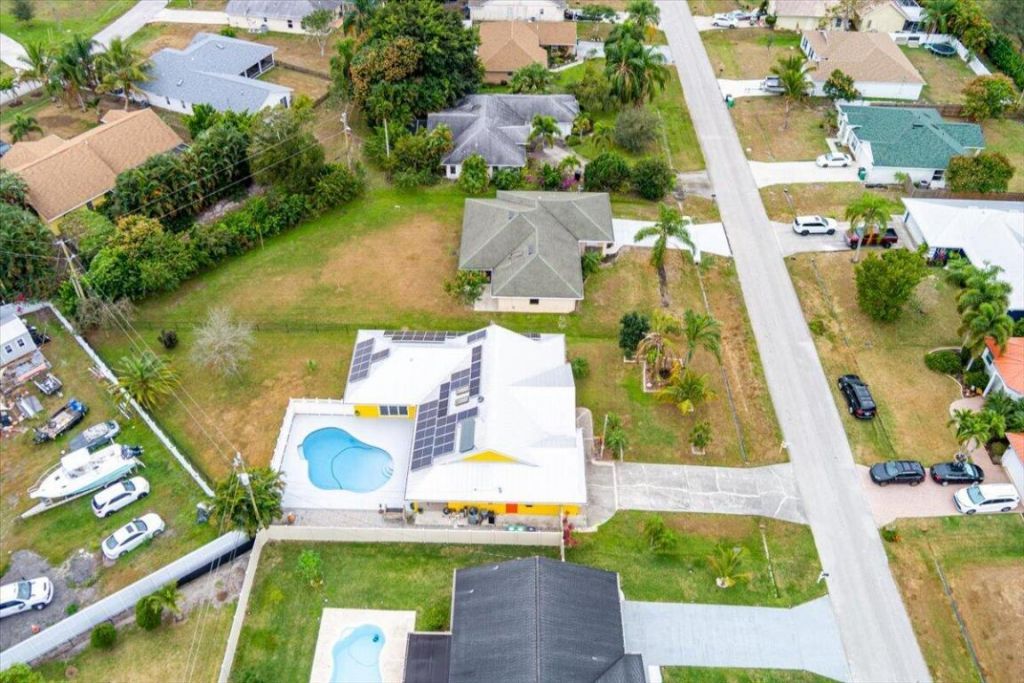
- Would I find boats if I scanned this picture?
Yes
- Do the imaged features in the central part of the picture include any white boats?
No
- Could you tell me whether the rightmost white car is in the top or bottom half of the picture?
bottom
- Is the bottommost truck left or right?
left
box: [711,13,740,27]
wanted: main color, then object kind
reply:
white car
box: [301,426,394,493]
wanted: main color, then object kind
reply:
blue swimming pool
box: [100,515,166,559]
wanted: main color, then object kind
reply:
white car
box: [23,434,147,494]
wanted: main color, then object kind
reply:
white boat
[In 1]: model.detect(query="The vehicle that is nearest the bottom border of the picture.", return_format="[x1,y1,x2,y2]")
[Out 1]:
[0,576,65,623]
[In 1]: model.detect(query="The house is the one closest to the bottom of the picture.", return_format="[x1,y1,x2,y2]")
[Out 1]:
[395,556,650,683]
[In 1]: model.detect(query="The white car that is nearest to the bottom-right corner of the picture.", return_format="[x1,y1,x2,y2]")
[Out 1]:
[950,483,1024,513]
